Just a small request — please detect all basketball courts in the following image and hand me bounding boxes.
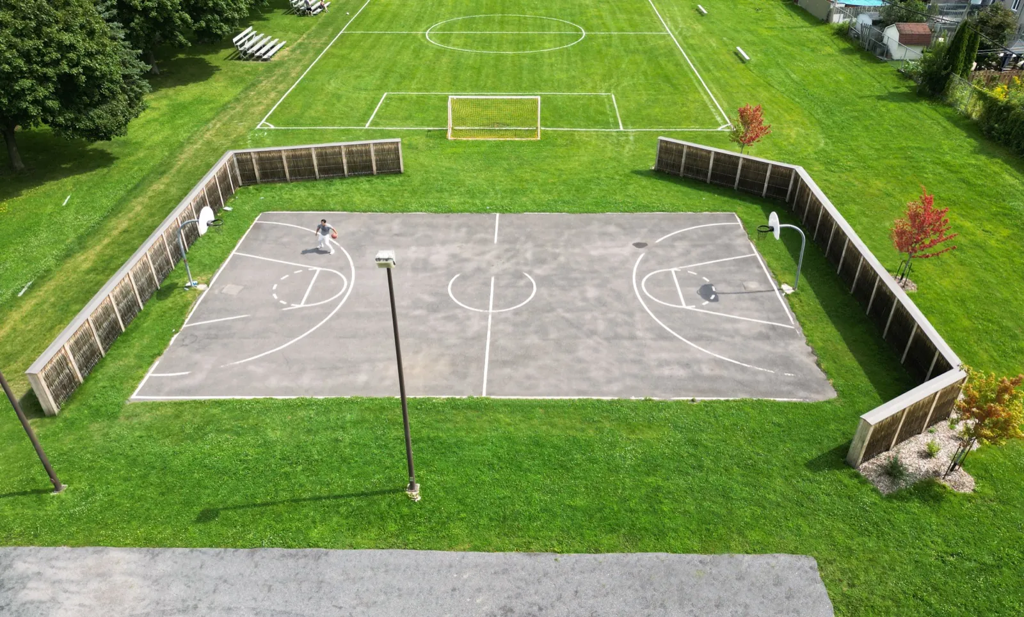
[130,211,838,401]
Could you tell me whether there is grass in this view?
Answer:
Yes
